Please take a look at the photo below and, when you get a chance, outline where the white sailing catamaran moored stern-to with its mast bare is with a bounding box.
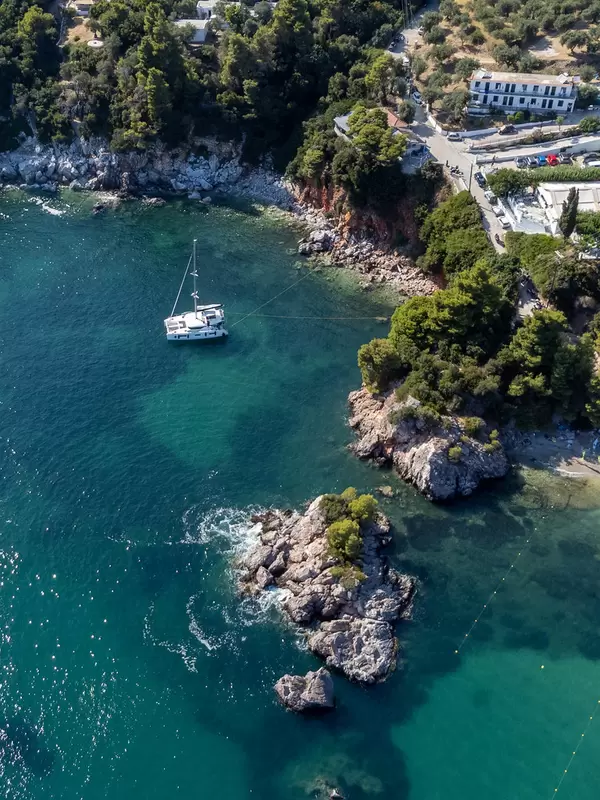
[166,237,229,338]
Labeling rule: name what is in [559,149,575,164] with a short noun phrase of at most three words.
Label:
car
